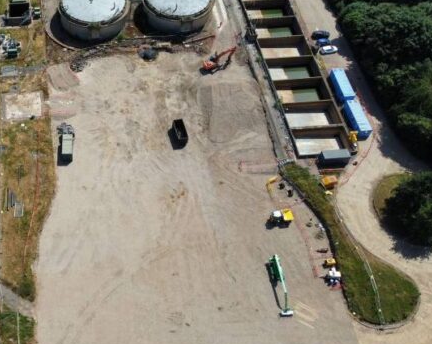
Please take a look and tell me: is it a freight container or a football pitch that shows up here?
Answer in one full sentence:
It is a freight container that can be seen here.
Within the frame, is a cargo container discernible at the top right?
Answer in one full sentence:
Yes, a cargo container appears at the top right.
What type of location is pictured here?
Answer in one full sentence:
The area seen from above is an industrial area.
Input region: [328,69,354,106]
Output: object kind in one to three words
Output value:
shipping container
